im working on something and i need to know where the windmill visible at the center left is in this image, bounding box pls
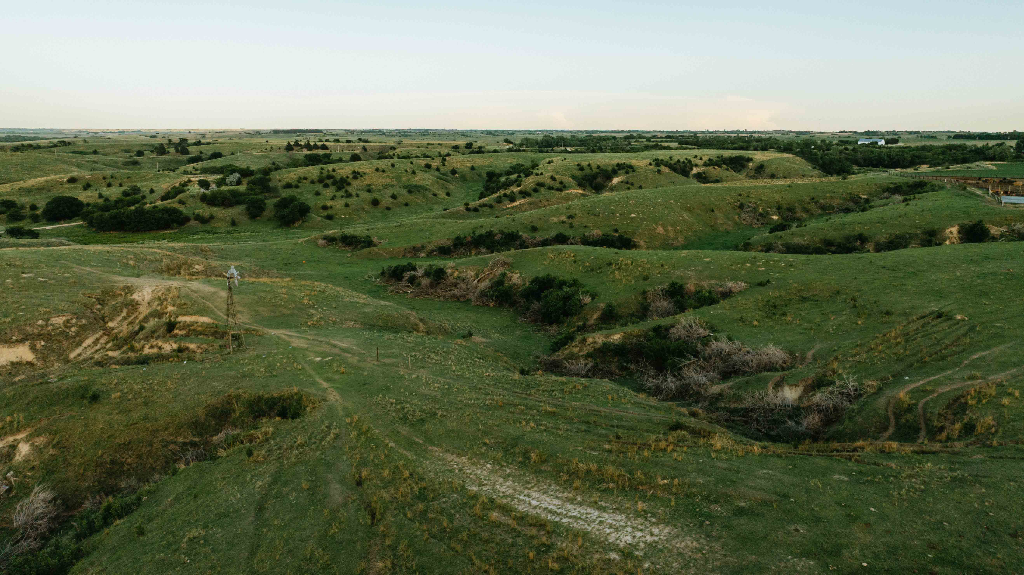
[221,267,243,351]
